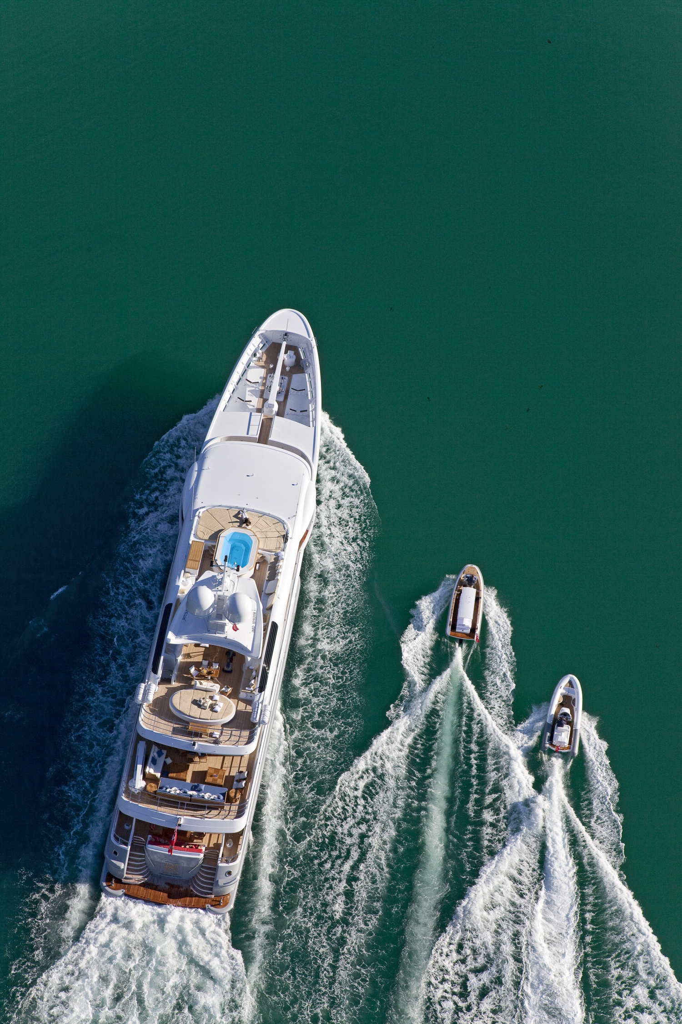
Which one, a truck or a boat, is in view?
boat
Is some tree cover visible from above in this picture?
No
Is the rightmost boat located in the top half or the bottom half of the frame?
bottom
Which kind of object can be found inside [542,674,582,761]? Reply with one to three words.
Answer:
boat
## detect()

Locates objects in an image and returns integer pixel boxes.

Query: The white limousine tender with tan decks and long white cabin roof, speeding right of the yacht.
[445,564,485,647]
